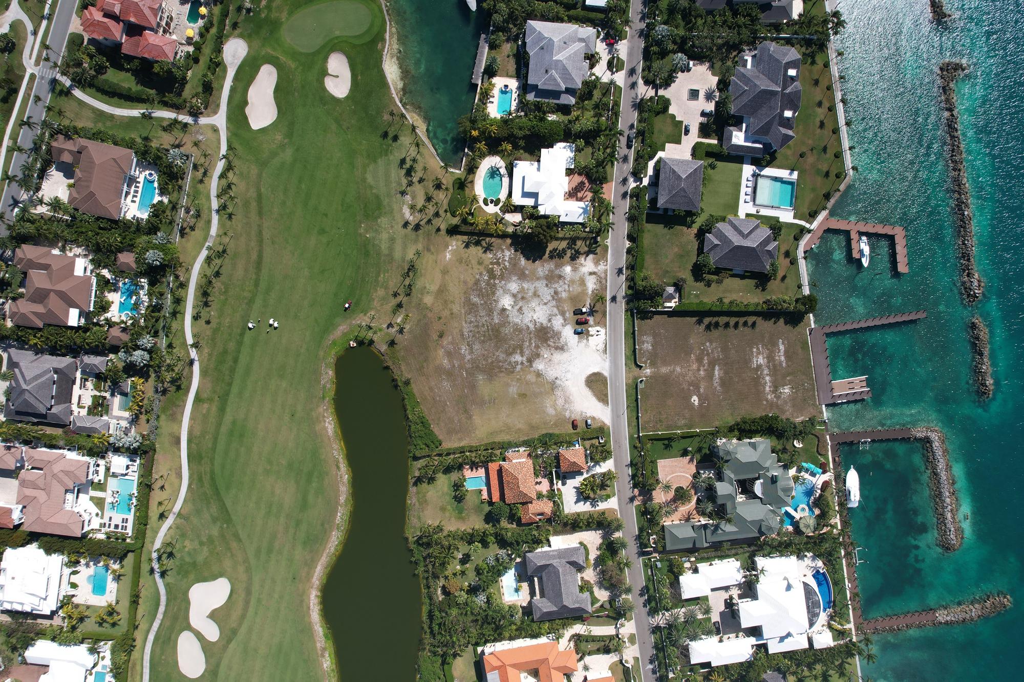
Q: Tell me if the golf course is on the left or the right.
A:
left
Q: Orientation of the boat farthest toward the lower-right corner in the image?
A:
from top to bottom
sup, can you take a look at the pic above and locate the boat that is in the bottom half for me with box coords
[845,457,867,513]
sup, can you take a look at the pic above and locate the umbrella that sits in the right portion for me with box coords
[799,516,816,532]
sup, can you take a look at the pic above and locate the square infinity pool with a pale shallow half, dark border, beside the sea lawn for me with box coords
[753,176,798,209]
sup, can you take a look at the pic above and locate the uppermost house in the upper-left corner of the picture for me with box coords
[80,0,187,64]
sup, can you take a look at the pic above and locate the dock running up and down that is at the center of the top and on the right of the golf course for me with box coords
[472,34,488,84]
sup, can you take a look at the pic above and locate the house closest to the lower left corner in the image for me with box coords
[24,637,100,682]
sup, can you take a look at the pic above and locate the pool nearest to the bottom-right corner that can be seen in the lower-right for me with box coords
[812,569,833,613]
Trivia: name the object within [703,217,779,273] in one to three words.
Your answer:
house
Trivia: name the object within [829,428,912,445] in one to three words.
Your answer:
pier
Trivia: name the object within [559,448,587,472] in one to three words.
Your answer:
building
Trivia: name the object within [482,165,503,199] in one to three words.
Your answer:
swimming pool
